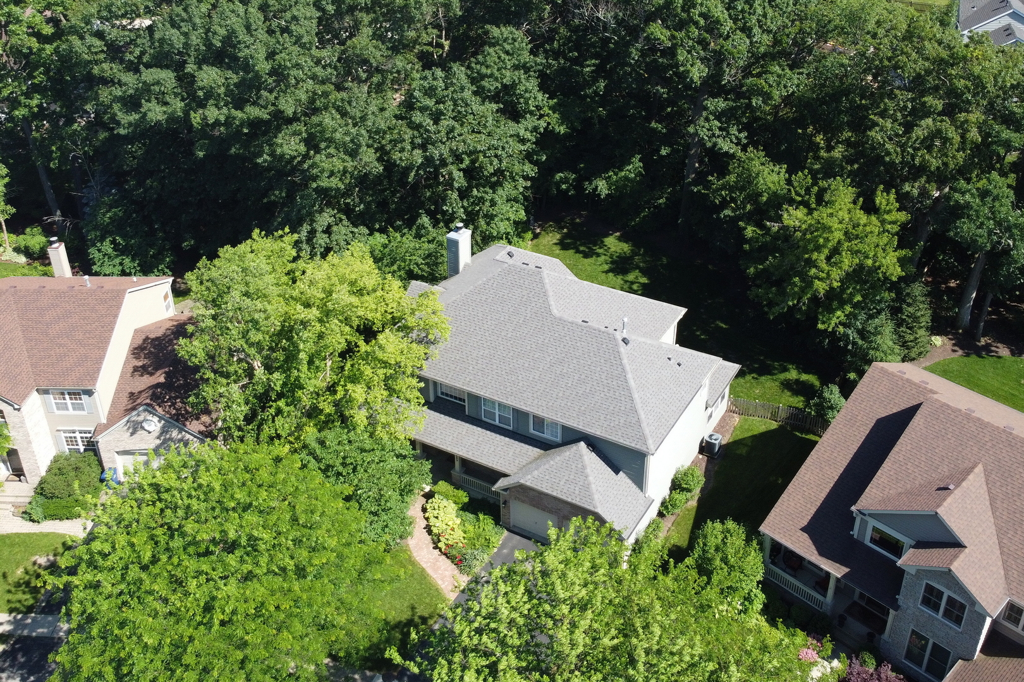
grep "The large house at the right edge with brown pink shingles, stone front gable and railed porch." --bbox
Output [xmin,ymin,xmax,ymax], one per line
[758,361,1024,682]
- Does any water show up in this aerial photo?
No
